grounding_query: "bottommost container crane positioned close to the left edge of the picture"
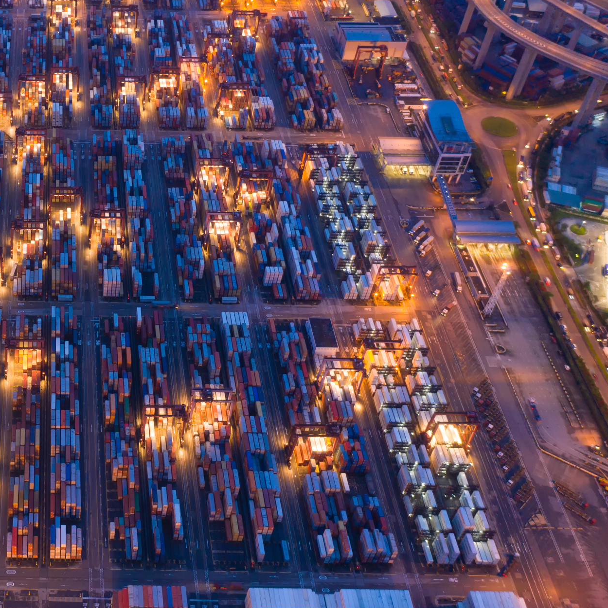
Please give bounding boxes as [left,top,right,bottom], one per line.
[1,338,45,378]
